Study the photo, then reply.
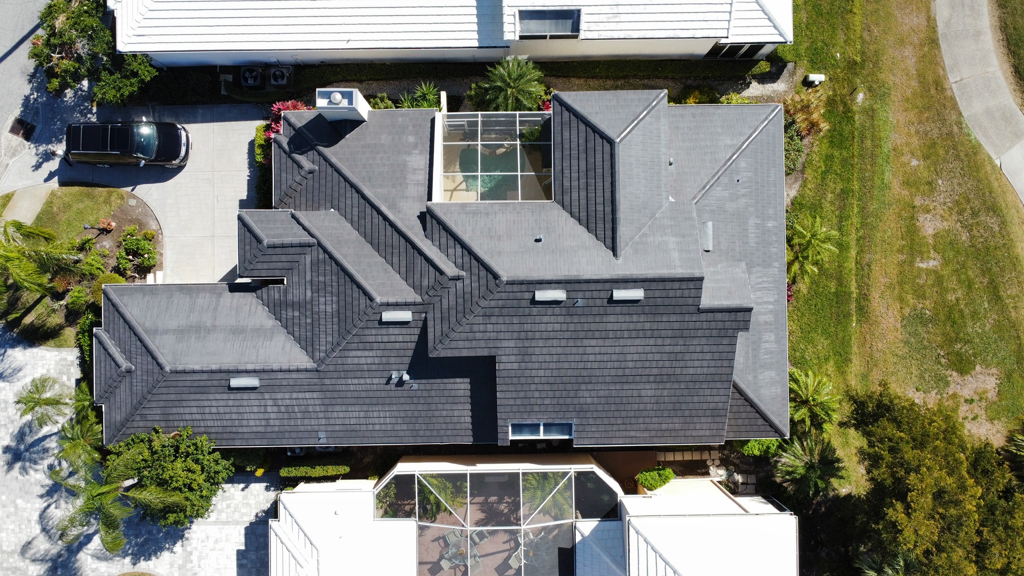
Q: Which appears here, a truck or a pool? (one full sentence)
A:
Visible in the photo is a pool.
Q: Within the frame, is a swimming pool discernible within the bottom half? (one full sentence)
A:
No, looking within the bottom half, there is no swimming pool.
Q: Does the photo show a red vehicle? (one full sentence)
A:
No, I can't see a single red vehicle in this photo.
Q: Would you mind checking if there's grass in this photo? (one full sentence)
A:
Yes, grass can be seen from above here.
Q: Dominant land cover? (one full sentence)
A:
The bulk of the photo consists of buildings.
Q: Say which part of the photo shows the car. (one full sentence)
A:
The car sits in the top left section of the image.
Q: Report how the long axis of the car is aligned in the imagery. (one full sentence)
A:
From this overhead view, the car appears to run from side to side.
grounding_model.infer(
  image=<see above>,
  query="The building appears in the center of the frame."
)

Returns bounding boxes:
[90,88,791,449]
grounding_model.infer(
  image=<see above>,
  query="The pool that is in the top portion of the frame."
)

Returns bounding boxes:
[459,128,526,201]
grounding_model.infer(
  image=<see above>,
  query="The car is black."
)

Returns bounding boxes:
[62,114,191,170]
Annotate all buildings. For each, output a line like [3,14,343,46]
[266,455,799,576]
[90,88,791,449]
[102,0,796,80]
